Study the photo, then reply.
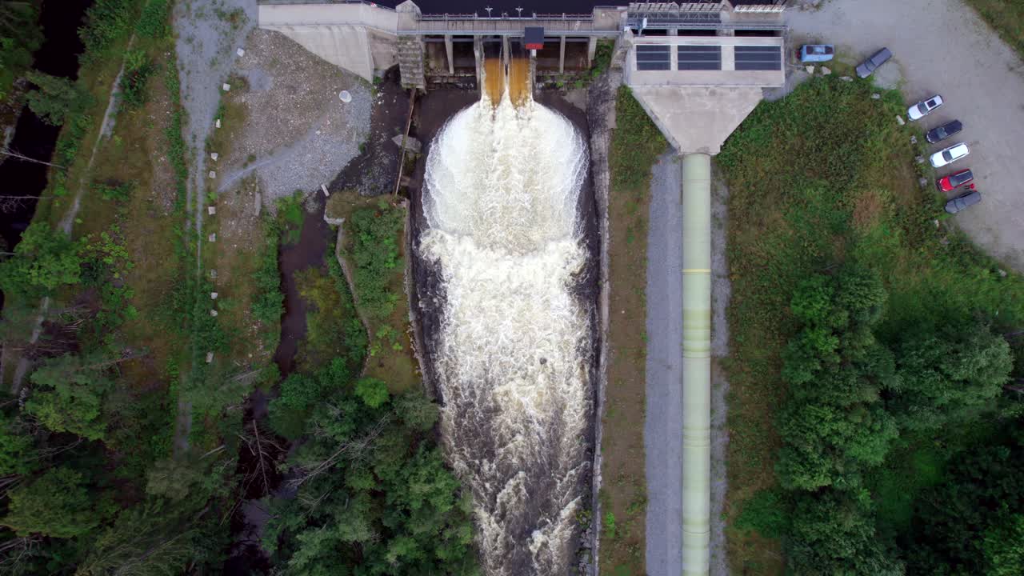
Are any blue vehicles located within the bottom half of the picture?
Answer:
No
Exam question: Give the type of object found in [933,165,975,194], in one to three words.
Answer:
car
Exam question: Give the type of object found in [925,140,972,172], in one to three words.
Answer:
car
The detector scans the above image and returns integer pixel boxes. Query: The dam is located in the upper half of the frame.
[254,0,622,123]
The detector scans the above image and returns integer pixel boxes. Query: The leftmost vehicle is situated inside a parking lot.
[799,45,834,63]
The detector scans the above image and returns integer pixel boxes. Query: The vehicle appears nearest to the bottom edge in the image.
[939,189,983,220]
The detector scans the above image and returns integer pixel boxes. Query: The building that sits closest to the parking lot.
[615,0,791,162]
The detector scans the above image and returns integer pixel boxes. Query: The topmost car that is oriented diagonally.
[851,45,895,81]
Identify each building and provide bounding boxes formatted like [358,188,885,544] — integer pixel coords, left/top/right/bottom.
[524,26,544,59]
[615,0,791,162]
